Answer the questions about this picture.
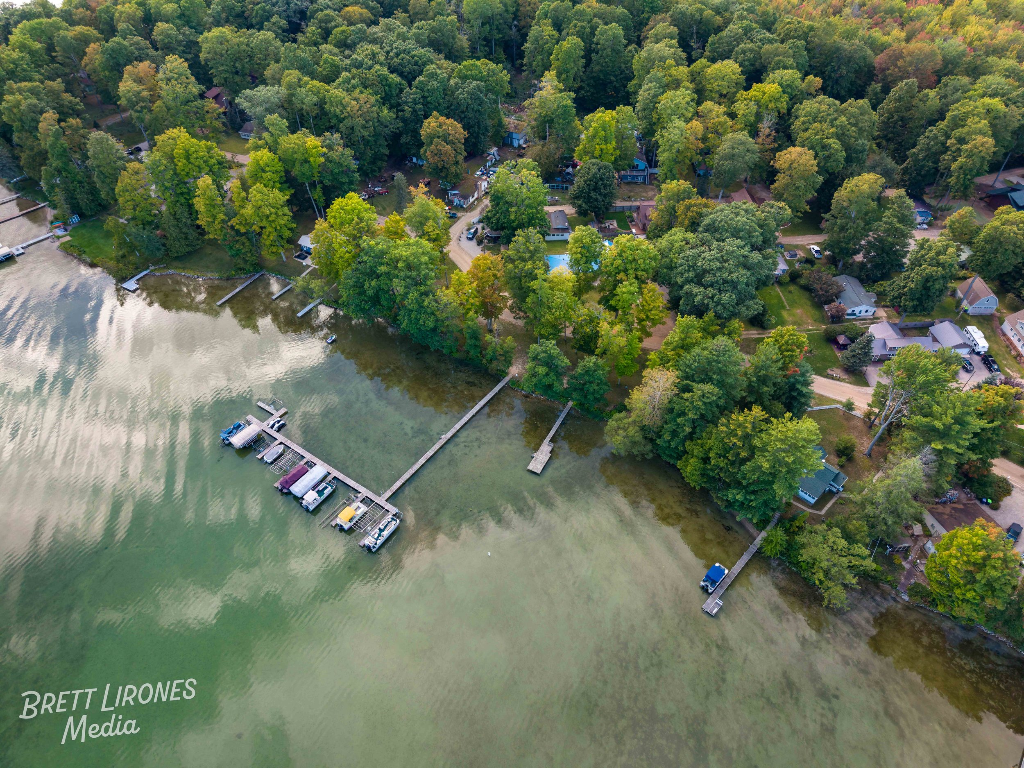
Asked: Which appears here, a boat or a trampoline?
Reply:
boat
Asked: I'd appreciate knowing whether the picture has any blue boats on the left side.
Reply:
Yes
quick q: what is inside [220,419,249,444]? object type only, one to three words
boat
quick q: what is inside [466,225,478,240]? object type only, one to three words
vehicle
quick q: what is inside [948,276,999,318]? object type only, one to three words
building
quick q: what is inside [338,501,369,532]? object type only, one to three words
boat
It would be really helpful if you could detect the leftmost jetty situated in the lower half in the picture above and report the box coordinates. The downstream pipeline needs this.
[245,402,398,549]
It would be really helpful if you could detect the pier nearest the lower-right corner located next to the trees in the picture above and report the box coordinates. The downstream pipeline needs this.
[702,530,768,617]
